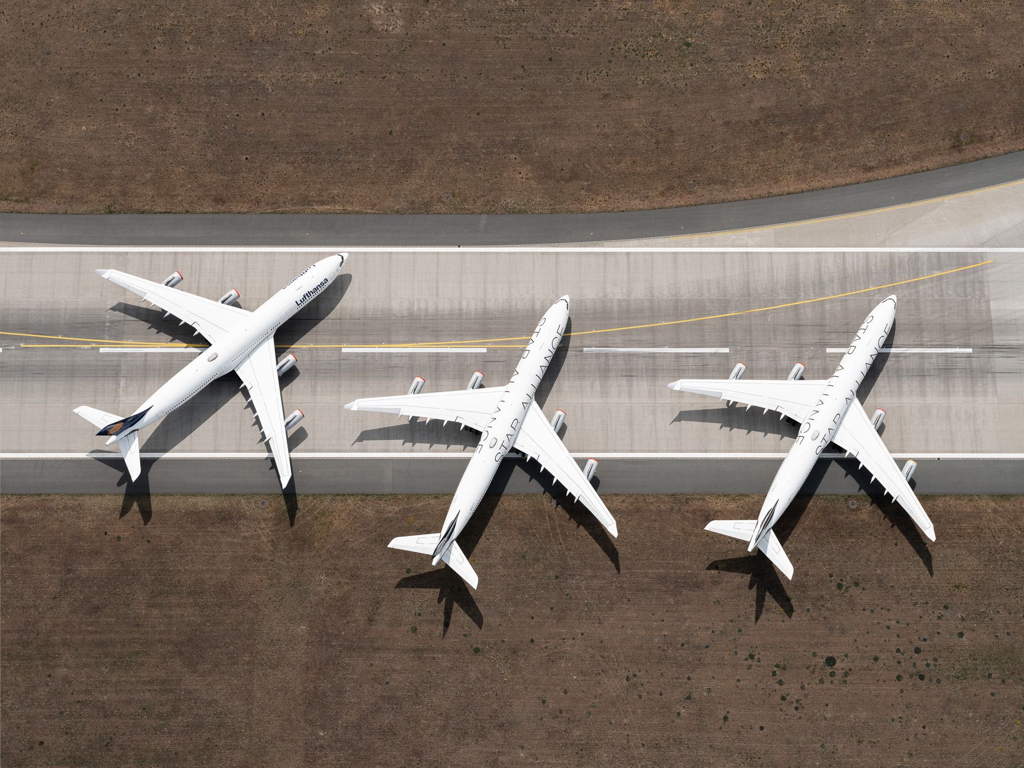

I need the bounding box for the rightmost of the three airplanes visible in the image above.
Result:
[667,294,935,579]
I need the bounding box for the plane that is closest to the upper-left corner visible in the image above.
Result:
[73,251,349,489]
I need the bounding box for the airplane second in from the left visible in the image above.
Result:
[342,294,617,589]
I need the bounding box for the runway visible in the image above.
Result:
[0,247,1024,459]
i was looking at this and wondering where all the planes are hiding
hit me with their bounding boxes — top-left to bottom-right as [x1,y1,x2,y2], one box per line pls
[342,294,617,589]
[667,294,935,579]
[73,251,349,489]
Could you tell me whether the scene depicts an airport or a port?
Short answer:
airport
